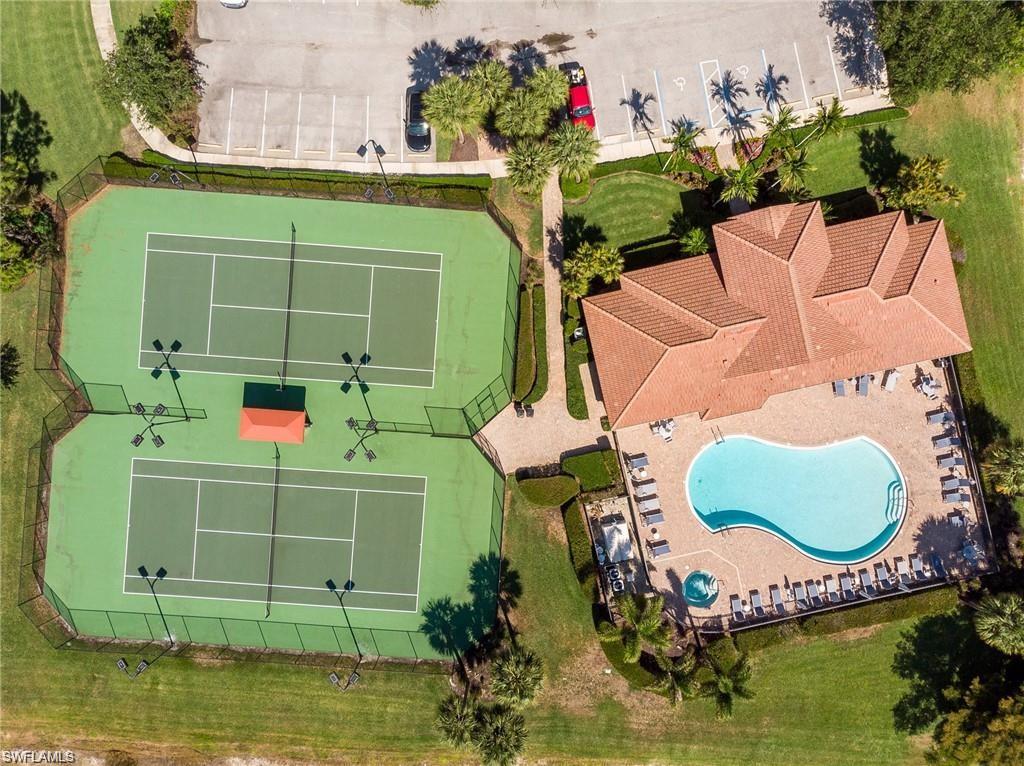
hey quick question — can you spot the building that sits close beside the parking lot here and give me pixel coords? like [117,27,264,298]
[585,200,975,430]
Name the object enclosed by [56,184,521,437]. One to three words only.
tennis court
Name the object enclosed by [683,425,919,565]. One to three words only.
swimming pool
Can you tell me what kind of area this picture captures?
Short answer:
sports ground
